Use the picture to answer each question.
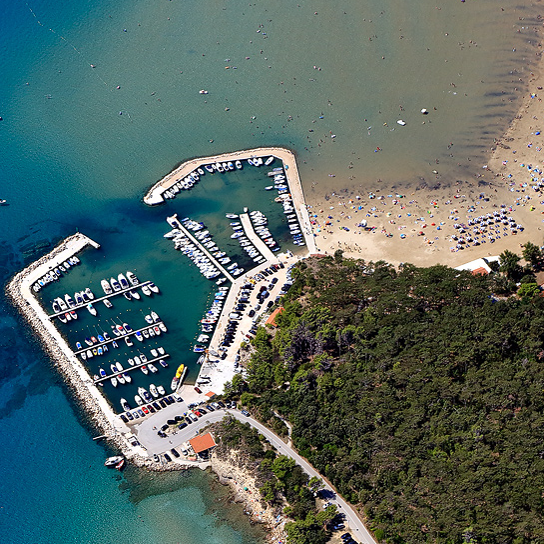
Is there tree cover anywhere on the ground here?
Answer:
Yes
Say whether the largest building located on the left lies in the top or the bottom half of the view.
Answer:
bottom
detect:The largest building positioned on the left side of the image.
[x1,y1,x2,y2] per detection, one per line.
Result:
[189,433,216,458]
